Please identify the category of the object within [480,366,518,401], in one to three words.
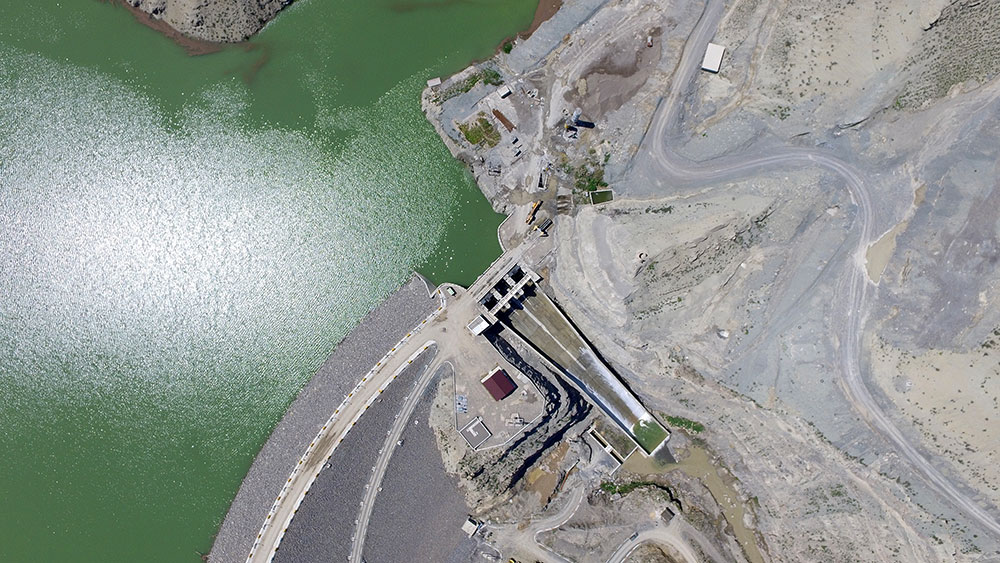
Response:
house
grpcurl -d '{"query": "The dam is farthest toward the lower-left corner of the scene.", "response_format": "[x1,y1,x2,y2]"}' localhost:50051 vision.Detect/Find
[205,273,476,563]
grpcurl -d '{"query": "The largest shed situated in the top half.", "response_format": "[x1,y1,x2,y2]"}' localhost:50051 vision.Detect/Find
[699,43,725,74]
